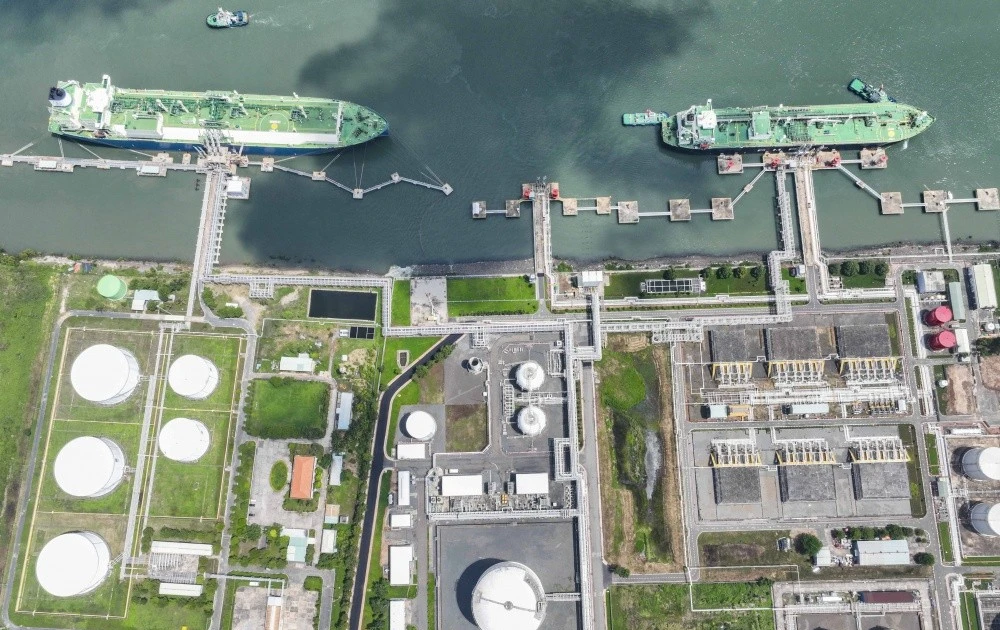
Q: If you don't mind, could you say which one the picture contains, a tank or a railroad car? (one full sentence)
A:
I can see a tank in this picture.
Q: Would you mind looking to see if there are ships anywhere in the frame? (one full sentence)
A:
Yes, you can see a ship in this photo.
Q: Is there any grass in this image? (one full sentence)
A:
Yes, grass shows up in the scene.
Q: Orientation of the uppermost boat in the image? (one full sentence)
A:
In this picture, the uppermost boat lies from side to side.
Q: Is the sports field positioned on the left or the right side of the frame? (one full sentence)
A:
You can find the sports field on the left side of the picture.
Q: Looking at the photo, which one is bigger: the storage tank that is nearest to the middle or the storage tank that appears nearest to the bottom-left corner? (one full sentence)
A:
Compared with the storage tank that is nearest to the middle, the storage tank that appears nearest to the bottom-left corner is the larger one.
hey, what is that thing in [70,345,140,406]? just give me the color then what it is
white storage tank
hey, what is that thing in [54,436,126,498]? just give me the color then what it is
white storage tank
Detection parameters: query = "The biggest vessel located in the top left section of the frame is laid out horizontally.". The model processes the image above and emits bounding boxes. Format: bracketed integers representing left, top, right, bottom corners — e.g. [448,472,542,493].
[45,75,388,160]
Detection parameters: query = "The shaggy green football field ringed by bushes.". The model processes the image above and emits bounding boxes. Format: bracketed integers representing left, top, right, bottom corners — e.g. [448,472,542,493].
[247,379,329,438]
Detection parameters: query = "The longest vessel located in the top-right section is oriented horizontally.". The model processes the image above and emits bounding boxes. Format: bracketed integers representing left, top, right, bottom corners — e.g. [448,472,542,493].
[660,99,936,154]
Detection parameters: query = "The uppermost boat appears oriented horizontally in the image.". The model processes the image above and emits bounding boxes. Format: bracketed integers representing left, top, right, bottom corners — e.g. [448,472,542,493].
[206,10,250,29]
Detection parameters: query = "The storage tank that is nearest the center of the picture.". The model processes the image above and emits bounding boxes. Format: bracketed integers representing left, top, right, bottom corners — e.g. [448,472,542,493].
[516,361,545,393]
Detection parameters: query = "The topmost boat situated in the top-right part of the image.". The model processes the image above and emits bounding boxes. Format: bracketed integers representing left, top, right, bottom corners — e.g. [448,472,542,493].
[846,78,897,101]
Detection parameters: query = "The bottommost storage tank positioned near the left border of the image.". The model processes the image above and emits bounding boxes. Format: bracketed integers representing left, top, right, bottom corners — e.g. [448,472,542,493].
[35,528,111,598]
